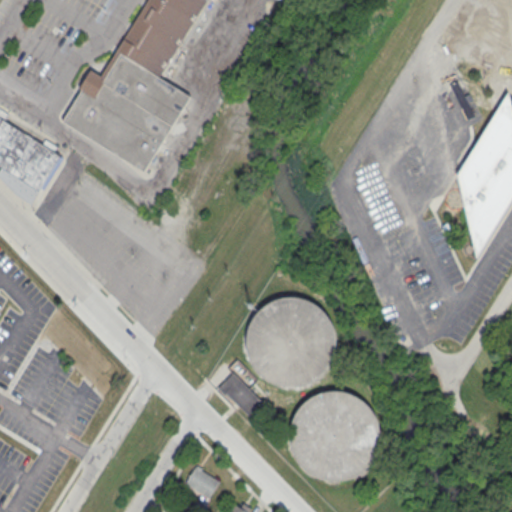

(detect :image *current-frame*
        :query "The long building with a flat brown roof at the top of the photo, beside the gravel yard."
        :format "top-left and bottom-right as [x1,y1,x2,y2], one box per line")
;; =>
[80,0,206,96]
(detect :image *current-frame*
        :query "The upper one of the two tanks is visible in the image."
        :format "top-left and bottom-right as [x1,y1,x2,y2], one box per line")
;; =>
[244,294,339,390]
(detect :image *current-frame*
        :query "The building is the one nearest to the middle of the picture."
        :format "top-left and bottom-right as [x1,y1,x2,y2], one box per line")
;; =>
[218,372,261,416]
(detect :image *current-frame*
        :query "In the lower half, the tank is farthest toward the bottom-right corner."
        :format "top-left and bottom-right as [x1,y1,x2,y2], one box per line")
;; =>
[286,388,383,486]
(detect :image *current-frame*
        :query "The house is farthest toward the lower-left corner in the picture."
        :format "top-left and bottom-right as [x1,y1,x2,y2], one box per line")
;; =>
[187,467,220,504]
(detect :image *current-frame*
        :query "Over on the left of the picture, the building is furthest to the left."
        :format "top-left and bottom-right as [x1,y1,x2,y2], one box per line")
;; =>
[0,116,63,189]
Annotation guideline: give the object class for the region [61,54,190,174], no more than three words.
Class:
building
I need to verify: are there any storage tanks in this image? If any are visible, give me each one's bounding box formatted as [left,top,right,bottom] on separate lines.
[286,388,383,486]
[244,294,339,390]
